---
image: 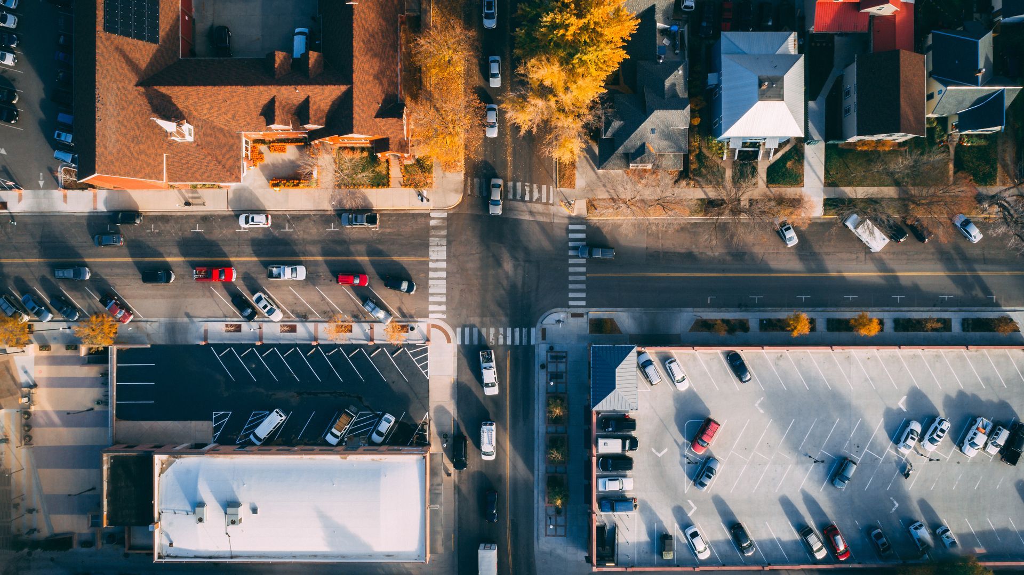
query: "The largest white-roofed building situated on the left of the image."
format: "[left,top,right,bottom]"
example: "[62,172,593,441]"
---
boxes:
[148,433,444,565]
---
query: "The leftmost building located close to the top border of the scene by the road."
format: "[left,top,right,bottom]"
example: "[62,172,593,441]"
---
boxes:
[76,0,415,187]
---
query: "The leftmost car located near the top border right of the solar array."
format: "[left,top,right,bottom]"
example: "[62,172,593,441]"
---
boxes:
[213,24,231,56]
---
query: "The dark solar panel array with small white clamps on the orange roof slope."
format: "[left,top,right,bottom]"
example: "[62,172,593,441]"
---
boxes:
[105,0,159,44]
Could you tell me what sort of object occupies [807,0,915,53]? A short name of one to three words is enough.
house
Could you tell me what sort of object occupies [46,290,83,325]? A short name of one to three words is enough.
truck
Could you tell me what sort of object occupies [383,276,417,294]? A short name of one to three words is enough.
car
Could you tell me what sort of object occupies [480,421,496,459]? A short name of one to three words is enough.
vehicle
